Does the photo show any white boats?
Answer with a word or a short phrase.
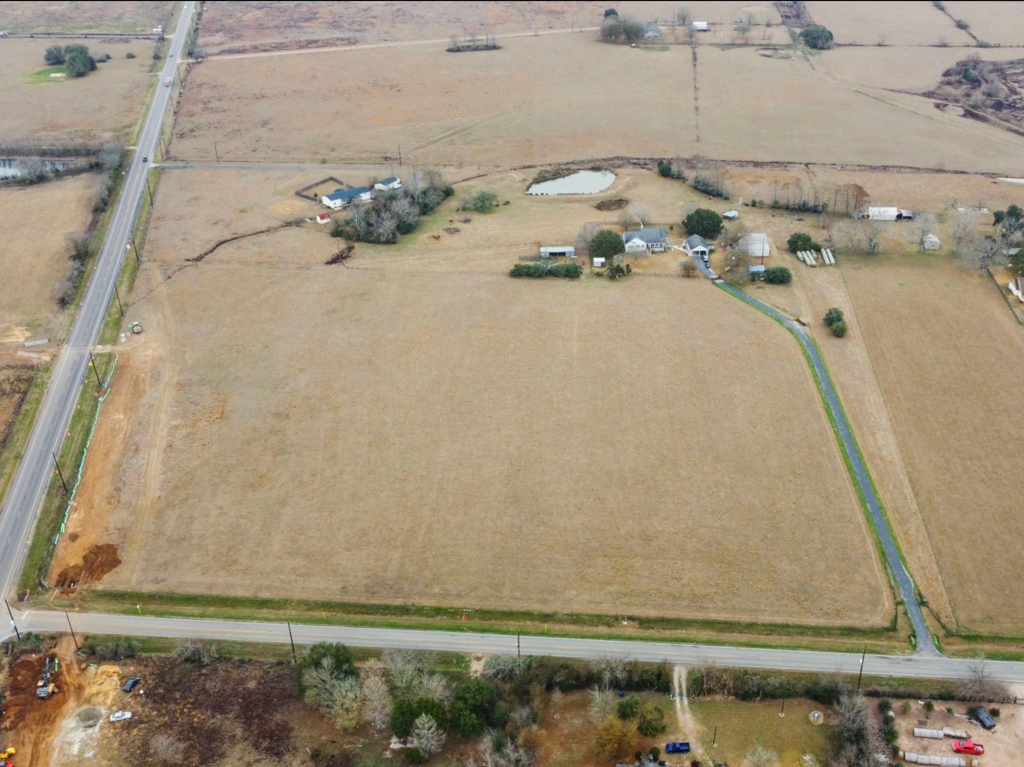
No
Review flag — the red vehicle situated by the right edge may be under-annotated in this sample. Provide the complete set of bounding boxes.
[951,739,987,754]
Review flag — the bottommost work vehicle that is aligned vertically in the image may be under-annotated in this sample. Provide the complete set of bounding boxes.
[35,659,53,701]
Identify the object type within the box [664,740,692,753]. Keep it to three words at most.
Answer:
vehicle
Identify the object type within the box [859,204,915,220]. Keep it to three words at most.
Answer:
barn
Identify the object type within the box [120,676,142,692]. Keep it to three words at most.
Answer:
car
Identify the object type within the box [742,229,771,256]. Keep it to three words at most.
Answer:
building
